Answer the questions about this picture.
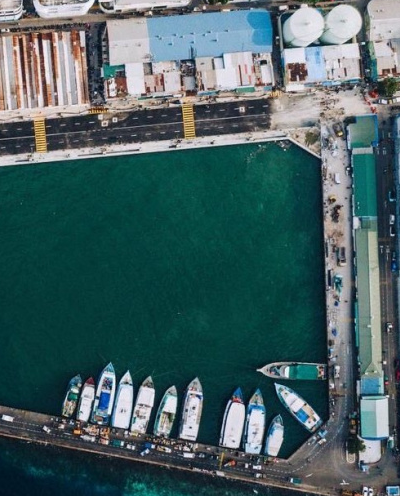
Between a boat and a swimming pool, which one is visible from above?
boat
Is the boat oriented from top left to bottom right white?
Yes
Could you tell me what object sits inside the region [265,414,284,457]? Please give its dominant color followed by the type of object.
white boat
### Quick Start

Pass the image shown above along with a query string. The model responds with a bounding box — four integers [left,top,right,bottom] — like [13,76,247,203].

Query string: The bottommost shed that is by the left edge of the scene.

[0,30,90,116]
